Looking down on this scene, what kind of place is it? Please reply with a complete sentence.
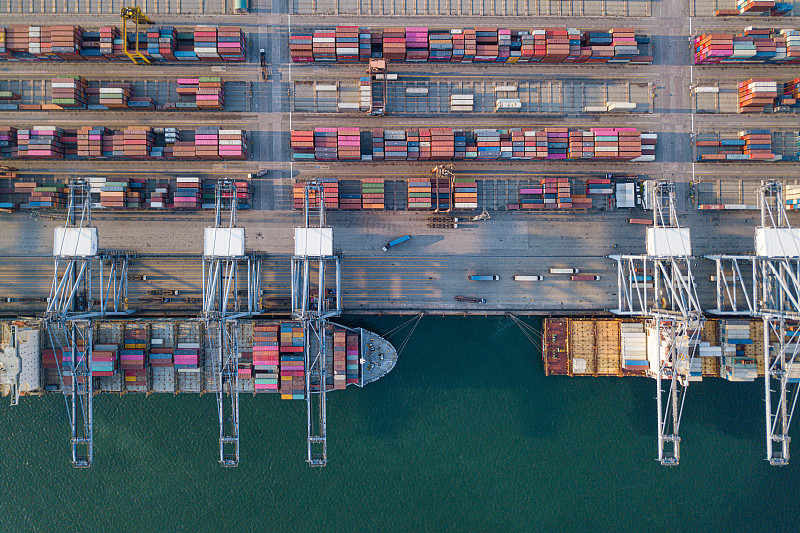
The area seen from above is a port.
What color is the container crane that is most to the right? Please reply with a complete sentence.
In this view, the container crane that is most to the right is white.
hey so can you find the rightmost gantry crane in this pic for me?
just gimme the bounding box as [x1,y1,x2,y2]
[700,181,800,467]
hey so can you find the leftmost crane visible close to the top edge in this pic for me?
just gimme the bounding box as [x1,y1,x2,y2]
[120,5,155,66]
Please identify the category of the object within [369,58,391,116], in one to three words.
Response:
crane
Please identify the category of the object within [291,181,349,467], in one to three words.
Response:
container crane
